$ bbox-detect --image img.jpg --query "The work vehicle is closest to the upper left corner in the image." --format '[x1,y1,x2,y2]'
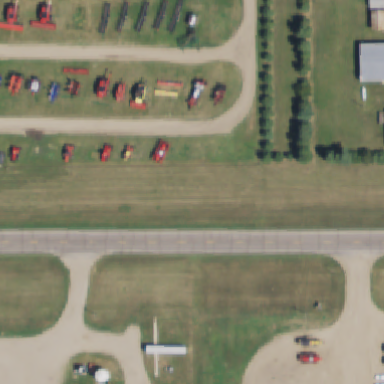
[0,2,24,32]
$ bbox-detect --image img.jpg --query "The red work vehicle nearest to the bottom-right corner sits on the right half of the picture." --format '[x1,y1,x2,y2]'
[298,353,320,366]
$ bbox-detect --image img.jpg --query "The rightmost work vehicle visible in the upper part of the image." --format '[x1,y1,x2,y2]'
[213,86,226,104]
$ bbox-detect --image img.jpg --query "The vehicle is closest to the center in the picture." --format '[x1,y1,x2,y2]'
[152,142,170,163]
